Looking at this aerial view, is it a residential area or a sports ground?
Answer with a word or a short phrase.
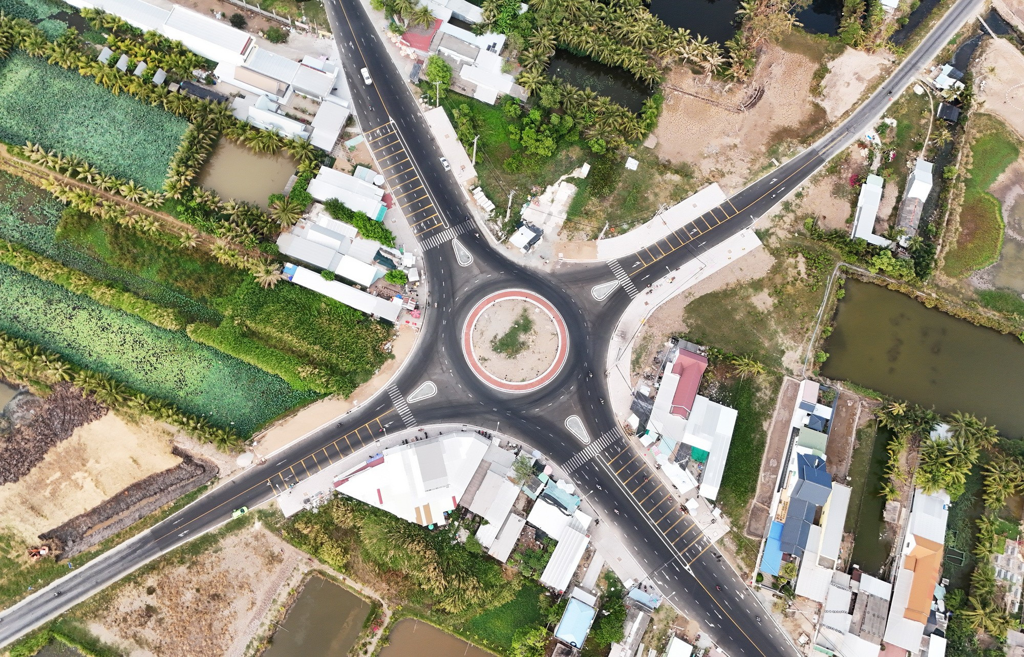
residential area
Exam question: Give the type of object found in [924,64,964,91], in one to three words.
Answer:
building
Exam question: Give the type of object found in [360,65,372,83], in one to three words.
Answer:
vehicle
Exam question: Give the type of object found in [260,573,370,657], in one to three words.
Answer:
pond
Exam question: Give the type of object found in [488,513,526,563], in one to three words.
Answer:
house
